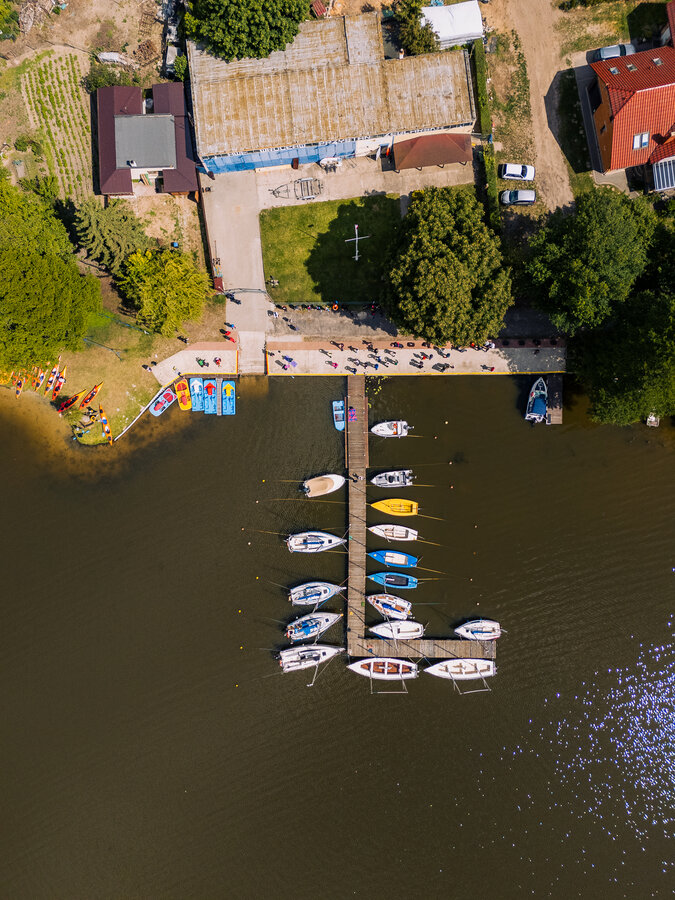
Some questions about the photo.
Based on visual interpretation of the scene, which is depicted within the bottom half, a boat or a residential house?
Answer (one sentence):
Visible within the bottom half is a boat.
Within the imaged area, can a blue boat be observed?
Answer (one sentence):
Yes, there's a blue boat here.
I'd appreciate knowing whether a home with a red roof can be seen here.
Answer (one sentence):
Yes, there's a home with a red roof here.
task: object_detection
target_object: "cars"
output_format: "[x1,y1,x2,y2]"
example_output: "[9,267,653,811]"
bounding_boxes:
[499,187,536,207]
[596,40,635,61]
[499,162,535,181]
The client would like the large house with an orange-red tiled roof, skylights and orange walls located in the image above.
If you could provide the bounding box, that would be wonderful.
[585,46,675,196]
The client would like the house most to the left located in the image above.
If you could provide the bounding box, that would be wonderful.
[97,82,199,200]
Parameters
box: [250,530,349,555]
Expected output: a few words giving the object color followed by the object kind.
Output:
white boat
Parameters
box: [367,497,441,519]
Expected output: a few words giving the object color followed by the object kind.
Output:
yellow boat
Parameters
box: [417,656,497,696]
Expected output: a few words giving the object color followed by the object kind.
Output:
white boat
